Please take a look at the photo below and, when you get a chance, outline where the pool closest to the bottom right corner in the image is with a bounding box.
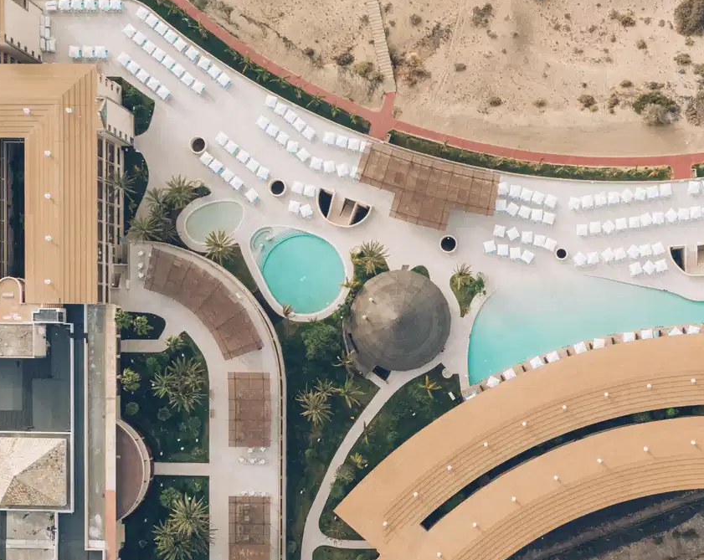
[469,272,704,387]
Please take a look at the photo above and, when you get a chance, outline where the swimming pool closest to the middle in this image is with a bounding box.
[247,223,350,322]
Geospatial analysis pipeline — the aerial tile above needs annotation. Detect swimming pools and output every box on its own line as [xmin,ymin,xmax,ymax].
[182,198,246,246]
[469,272,704,387]
[247,223,350,322]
